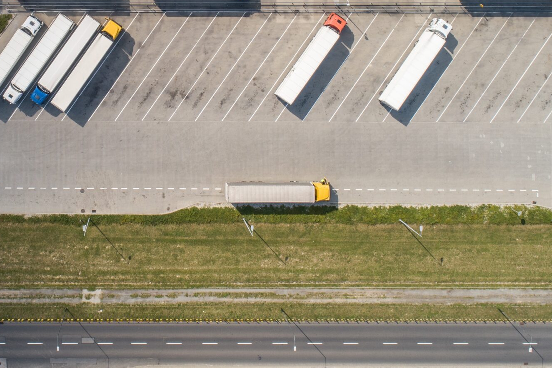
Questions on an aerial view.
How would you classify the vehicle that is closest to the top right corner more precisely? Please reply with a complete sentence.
I'd identify the vehicle that is closest to the top right corner as a truck.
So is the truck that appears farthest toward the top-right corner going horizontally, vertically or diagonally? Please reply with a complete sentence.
Seen from above, the truck that appears farthest toward the top-right corner lies diagonally.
